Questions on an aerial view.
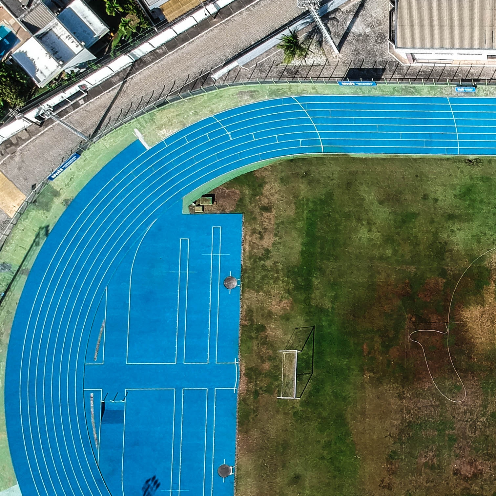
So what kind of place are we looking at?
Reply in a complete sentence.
This looks like a sports ground.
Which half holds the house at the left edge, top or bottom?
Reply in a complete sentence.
It is in the top half that the house at the left edge appears.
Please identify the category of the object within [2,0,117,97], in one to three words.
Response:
house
